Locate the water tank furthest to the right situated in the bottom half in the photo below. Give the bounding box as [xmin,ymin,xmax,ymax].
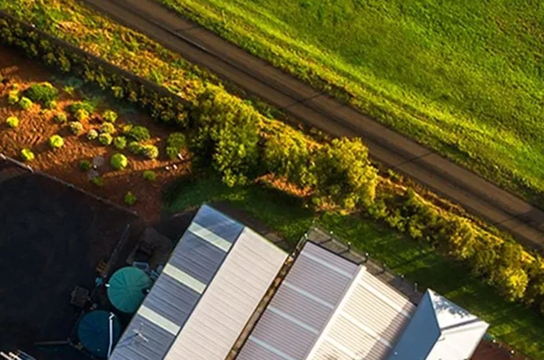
[104,269,154,317]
